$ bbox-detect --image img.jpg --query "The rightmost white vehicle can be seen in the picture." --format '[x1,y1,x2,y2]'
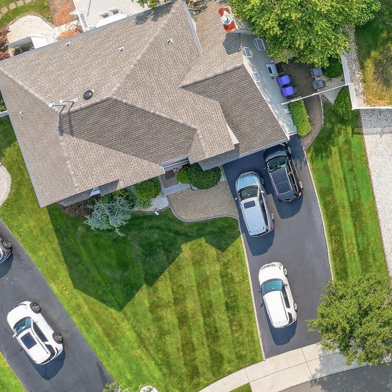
[259,258,300,332]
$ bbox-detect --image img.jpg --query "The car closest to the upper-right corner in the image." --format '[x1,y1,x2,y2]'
[264,139,305,206]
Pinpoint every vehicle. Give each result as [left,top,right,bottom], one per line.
[12,296,65,367]
[0,241,10,265]
[259,258,300,332]
[264,139,305,206]
[236,168,276,239]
